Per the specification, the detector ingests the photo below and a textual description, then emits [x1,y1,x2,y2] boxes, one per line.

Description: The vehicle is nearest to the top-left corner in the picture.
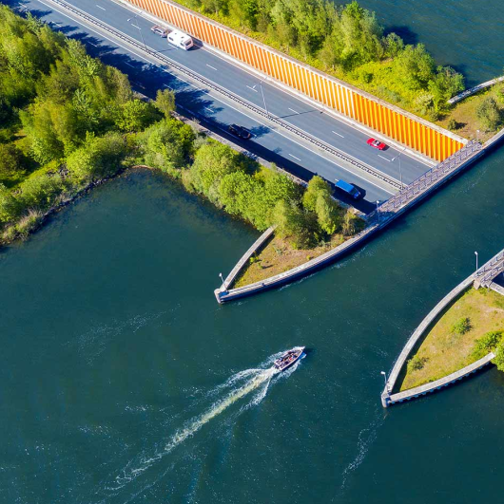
[152,26,170,38]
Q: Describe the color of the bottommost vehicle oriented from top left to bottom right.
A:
blue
